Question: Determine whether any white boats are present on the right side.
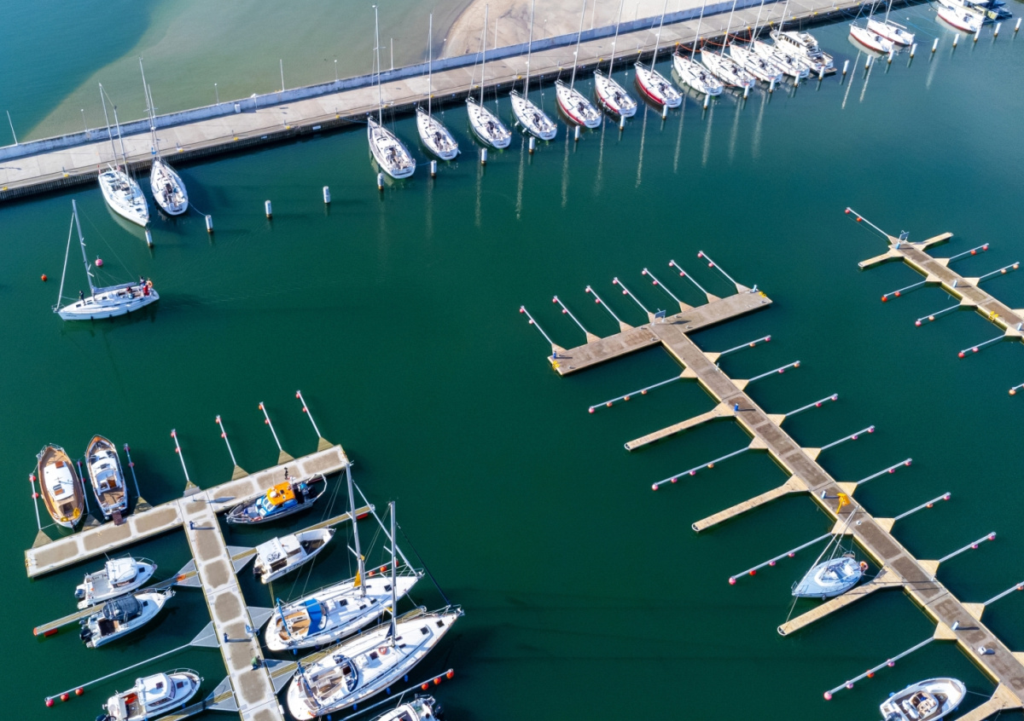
Yes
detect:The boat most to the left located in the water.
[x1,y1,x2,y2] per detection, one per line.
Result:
[35,443,85,534]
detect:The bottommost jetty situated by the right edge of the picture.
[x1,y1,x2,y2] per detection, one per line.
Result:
[949,680,1019,721]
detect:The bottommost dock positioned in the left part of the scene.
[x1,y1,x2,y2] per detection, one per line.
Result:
[159,677,239,721]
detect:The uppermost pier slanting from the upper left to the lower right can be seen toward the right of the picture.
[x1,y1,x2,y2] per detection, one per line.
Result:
[886,240,1024,345]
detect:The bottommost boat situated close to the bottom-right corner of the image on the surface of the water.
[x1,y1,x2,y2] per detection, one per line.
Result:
[876,682,965,721]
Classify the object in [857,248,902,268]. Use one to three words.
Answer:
pier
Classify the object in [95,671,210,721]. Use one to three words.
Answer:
boat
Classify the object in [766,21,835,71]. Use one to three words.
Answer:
boat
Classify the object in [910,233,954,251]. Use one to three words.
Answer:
pier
